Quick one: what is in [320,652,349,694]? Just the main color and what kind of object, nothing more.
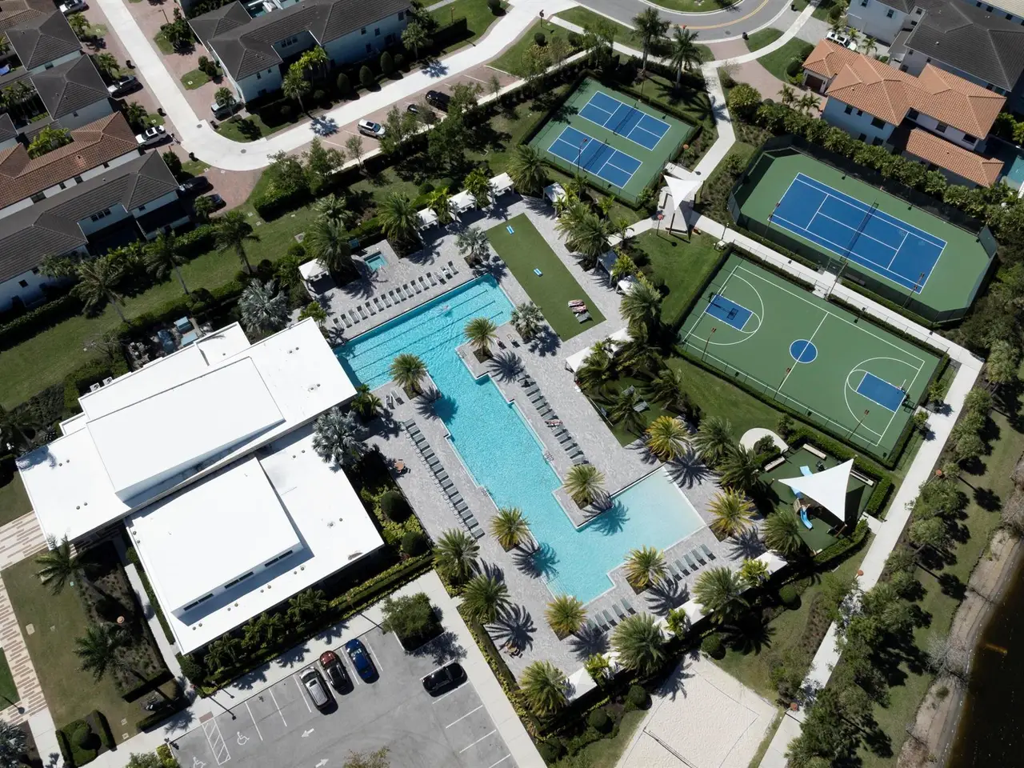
black car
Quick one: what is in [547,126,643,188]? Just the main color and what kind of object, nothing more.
blue sports court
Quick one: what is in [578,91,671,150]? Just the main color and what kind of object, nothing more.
blue sports court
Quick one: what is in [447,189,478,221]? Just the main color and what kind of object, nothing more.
white tent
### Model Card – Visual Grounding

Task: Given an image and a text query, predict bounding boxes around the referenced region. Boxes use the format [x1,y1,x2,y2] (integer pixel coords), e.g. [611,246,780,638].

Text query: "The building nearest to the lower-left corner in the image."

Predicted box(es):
[15,318,386,656]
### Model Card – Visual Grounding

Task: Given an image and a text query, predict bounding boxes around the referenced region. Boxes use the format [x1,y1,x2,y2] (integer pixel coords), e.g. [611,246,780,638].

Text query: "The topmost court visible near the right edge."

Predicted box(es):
[735,149,990,310]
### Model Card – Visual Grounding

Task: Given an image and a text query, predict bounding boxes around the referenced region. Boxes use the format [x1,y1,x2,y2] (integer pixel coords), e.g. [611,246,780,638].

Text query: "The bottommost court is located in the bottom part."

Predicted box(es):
[614,649,782,768]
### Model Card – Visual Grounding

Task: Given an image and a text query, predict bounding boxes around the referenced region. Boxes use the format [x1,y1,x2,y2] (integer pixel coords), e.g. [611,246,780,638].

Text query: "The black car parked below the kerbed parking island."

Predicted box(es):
[422,662,466,694]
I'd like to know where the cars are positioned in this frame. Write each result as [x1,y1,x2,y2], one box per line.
[355,116,384,136]
[177,173,210,196]
[299,667,330,710]
[425,87,455,109]
[195,192,228,215]
[406,99,434,121]
[320,652,349,694]
[422,662,466,694]
[345,640,376,682]
[827,28,857,50]
[57,0,87,13]
[135,124,167,146]
[108,76,139,97]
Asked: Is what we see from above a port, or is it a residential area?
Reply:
residential area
